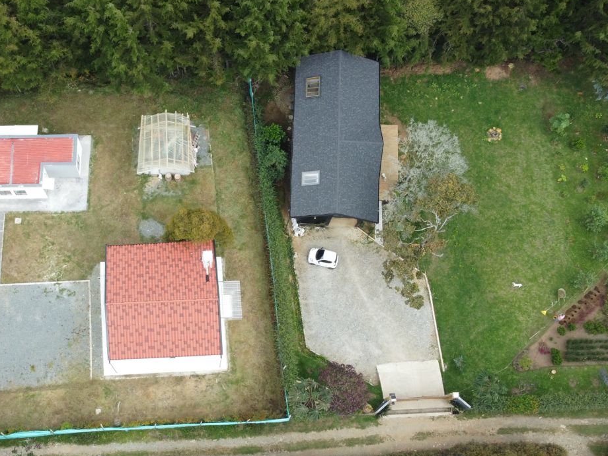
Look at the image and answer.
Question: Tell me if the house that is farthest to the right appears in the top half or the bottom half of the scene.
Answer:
top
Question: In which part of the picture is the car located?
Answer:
center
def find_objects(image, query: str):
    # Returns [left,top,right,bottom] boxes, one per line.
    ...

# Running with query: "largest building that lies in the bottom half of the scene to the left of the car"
[103,239,224,364]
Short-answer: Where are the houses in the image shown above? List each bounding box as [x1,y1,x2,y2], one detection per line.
[0,125,82,198]
[103,239,224,364]
[290,50,384,232]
